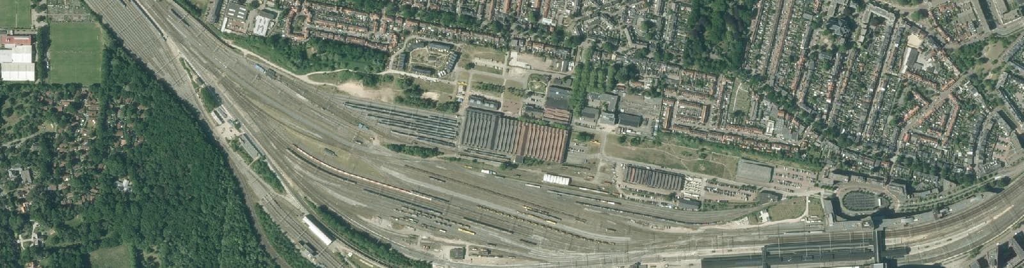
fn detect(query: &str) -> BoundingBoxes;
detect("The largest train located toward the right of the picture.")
[576,201,730,225]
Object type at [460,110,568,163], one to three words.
building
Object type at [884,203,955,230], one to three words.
building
